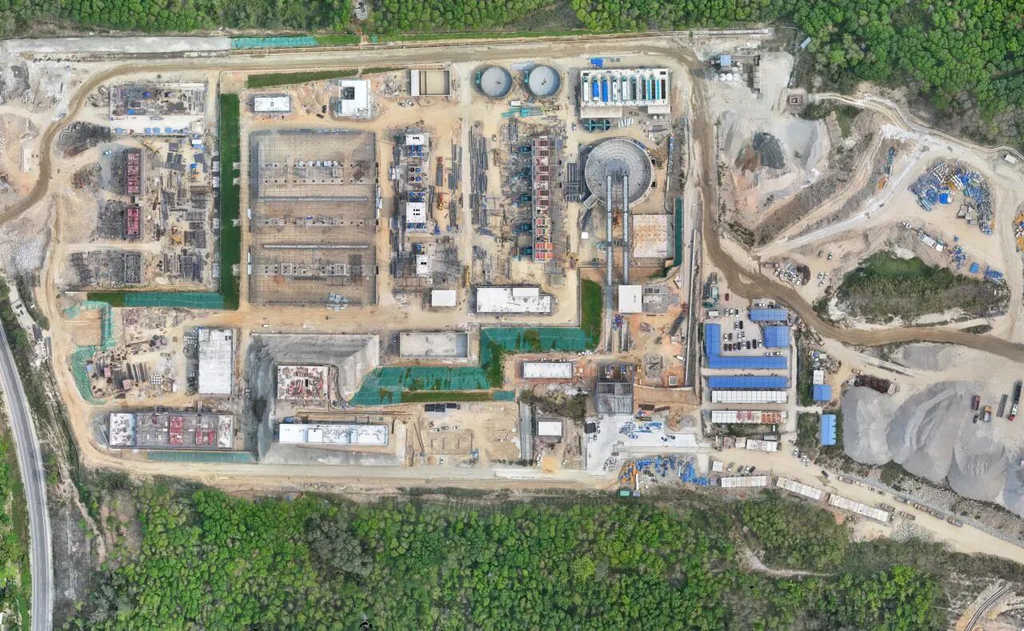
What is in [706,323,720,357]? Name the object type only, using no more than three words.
building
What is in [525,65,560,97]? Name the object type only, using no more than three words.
storage tank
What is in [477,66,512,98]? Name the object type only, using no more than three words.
storage tank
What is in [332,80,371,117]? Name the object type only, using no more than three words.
building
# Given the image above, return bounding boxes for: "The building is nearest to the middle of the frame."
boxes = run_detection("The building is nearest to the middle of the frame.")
[476,288,551,312]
